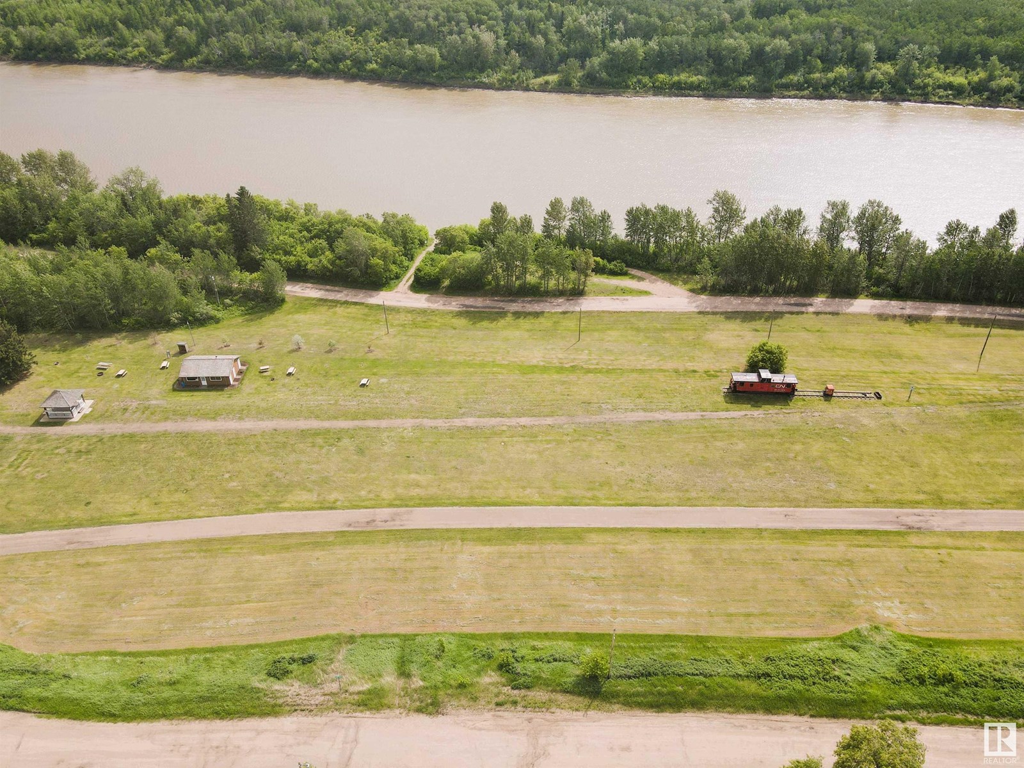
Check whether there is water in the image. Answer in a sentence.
Yes, there is water in the image.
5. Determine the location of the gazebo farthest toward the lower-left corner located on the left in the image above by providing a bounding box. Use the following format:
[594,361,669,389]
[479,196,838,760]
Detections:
[39,389,96,421]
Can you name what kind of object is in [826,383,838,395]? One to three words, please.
rail car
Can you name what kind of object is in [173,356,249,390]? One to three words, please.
building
